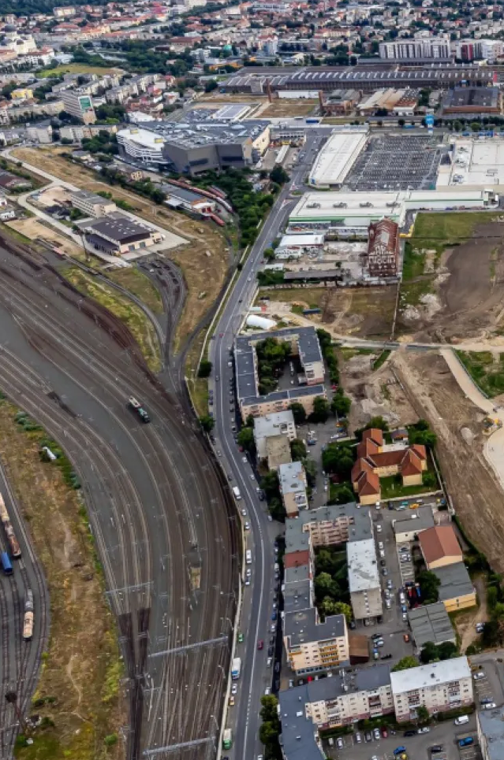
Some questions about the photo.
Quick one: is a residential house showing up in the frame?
Yes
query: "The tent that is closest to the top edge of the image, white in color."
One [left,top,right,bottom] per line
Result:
[246,310,279,328]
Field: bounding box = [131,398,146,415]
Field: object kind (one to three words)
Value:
rail car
